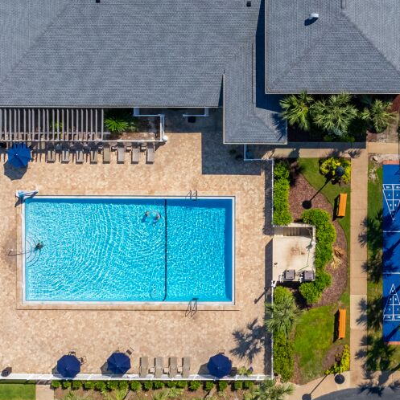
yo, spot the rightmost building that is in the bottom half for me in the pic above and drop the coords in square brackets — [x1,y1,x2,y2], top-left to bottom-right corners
[272,226,312,280]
